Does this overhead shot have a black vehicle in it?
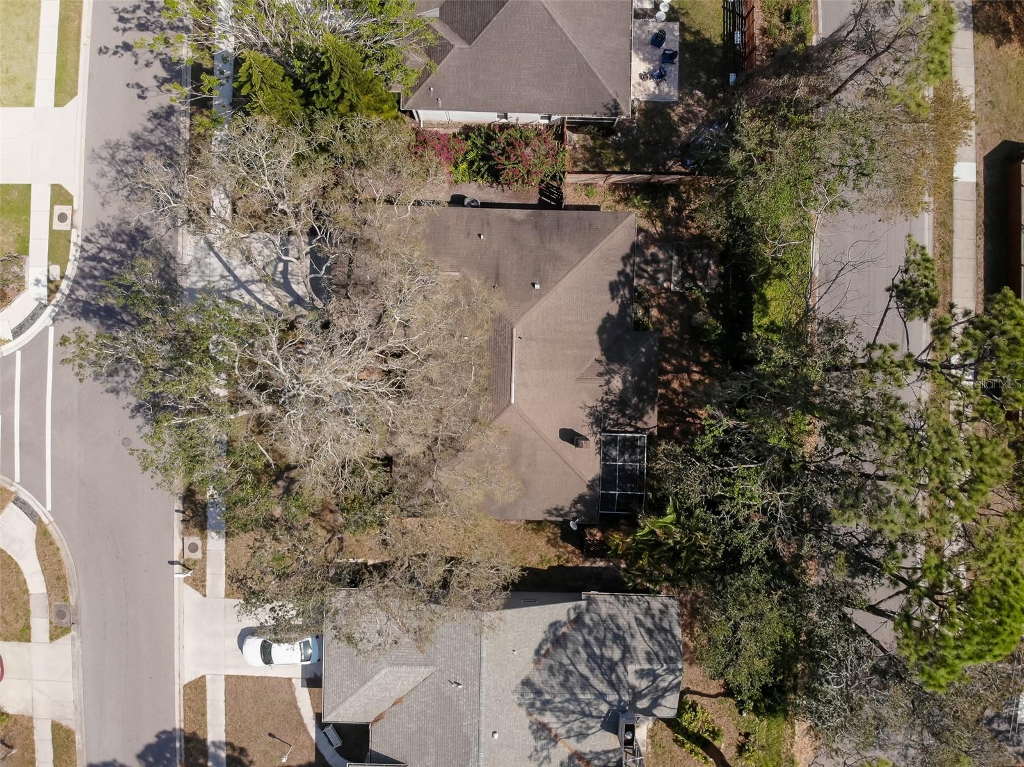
No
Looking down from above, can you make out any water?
No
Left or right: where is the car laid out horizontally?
left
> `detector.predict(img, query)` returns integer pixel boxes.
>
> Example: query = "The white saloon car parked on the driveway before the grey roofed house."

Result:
[247,633,321,670]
